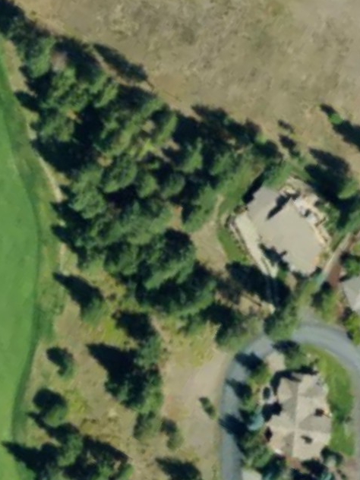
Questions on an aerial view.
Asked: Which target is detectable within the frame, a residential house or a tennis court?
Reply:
residential house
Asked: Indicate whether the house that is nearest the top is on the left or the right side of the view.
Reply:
right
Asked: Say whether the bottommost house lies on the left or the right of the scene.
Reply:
right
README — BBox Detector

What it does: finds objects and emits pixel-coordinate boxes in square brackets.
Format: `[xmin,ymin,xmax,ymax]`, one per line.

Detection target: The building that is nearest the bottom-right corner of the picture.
[261,352,334,465]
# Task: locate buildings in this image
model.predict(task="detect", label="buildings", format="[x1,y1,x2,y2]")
[245,185,333,283]
[334,274,360,312]
[261,352,334,465]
